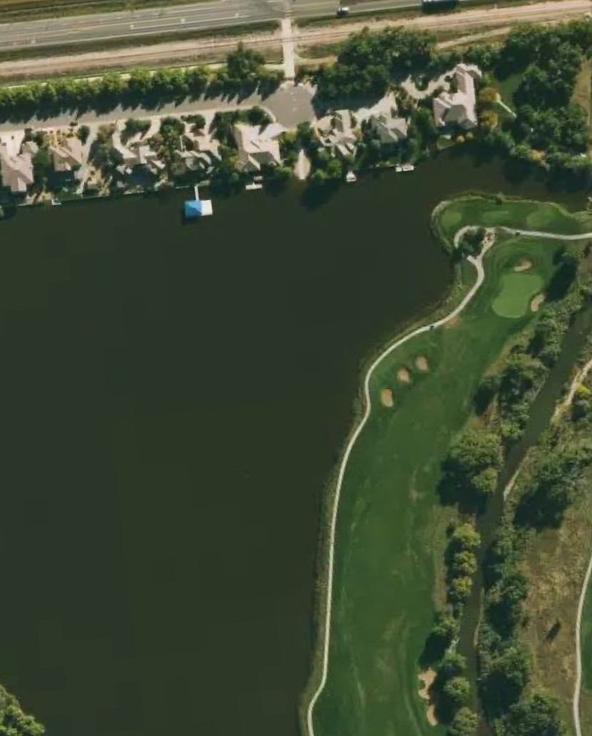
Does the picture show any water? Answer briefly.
Yes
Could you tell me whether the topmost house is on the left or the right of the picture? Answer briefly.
right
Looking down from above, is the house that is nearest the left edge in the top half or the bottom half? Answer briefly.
top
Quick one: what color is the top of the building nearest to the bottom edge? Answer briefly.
blue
